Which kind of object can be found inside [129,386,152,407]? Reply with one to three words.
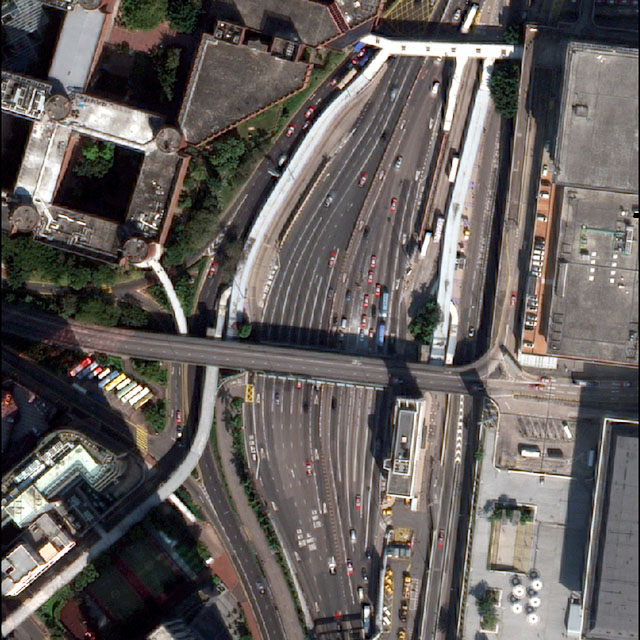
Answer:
bus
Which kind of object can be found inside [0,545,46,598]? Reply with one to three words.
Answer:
building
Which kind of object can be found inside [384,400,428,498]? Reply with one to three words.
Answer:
building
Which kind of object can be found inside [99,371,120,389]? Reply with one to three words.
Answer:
vehicle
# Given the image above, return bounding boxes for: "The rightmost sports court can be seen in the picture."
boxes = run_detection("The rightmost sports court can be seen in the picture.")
[121,518,191,597]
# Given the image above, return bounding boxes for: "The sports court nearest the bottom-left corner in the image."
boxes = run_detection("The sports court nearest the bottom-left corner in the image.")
[79,552,160,640]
